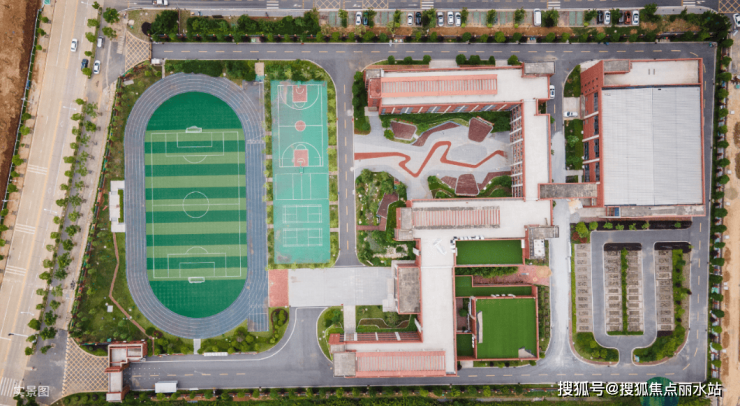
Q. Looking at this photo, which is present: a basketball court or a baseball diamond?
basketball court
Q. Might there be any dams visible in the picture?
No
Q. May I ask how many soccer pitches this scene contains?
one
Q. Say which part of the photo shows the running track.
left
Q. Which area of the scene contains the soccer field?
left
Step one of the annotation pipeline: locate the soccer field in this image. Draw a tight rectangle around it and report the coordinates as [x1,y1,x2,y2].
[145,93,248,317]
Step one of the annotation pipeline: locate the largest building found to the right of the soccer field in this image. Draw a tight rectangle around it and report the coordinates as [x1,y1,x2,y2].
[330,61,559,379]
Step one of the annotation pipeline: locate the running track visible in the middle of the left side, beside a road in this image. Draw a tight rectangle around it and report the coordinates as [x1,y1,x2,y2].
[124,72,270,338]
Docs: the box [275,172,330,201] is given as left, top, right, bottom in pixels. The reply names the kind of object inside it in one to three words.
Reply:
sports court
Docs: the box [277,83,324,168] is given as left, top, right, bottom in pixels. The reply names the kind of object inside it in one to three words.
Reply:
basketball court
